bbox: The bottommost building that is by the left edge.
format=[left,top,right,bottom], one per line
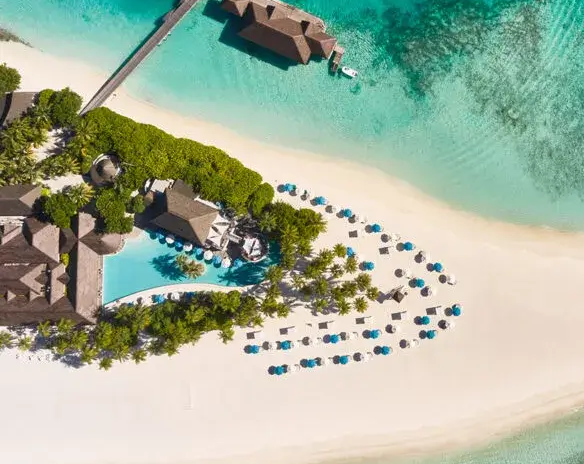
[0,212,122,326]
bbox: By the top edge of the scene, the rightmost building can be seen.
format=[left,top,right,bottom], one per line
[221,0,337,64]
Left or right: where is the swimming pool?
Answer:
left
